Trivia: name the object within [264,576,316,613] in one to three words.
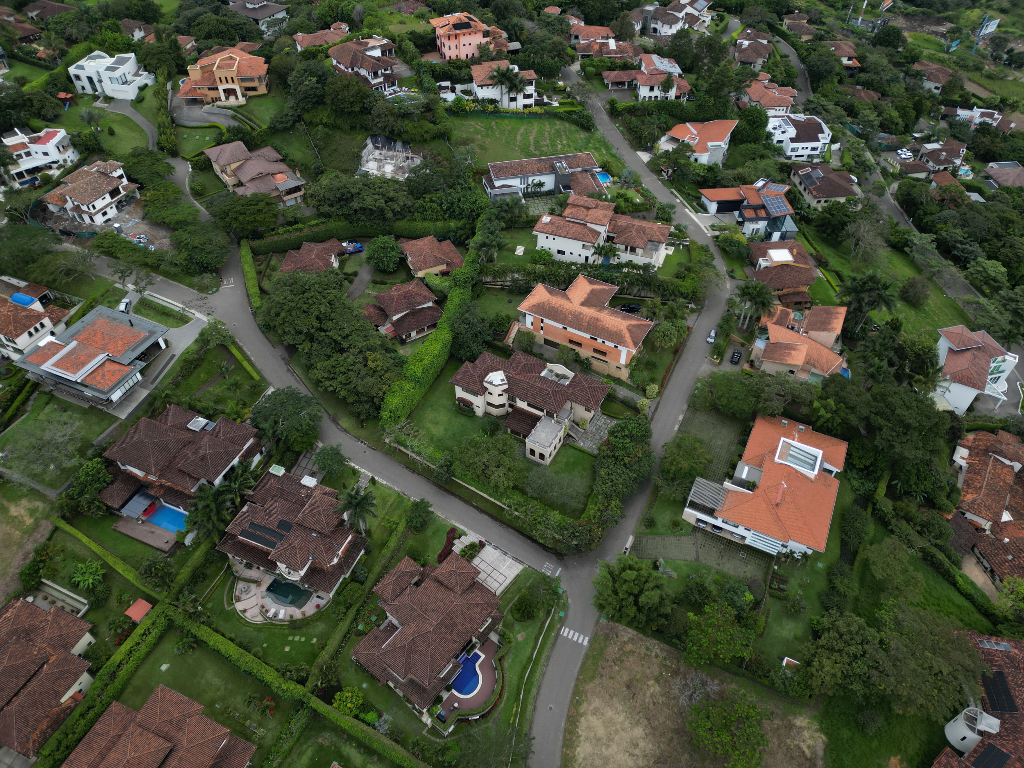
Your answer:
swimming pool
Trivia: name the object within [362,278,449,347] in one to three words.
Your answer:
house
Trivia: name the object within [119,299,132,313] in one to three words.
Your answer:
vehicle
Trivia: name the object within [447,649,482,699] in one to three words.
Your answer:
swimming pool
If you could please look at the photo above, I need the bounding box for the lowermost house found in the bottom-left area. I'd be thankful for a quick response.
[58,683,259,768]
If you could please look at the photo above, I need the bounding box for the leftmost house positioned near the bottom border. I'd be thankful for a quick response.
[0,597,100,762]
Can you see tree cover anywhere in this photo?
Yes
